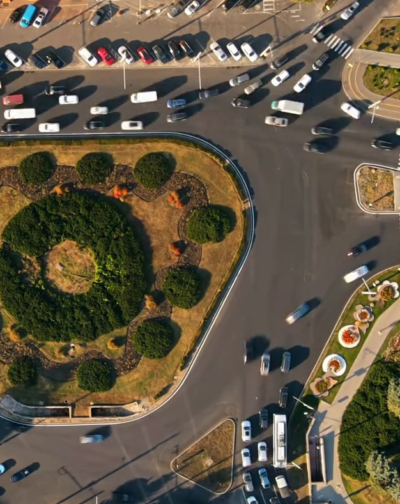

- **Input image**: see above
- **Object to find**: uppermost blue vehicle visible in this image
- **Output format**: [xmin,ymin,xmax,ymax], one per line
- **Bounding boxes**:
[20,2,36,28]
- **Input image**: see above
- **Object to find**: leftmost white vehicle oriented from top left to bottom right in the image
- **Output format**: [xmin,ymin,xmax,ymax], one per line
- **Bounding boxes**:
[5,49,23,67]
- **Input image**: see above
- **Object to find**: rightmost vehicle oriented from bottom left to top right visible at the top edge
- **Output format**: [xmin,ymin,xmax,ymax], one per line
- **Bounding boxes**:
[341,0,359,22]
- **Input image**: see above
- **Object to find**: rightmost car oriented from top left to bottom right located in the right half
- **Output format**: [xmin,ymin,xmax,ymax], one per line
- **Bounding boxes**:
[339,101,362,120]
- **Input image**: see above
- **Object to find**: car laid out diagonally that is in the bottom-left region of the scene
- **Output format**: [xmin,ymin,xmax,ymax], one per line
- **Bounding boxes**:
[13,466,34,482]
